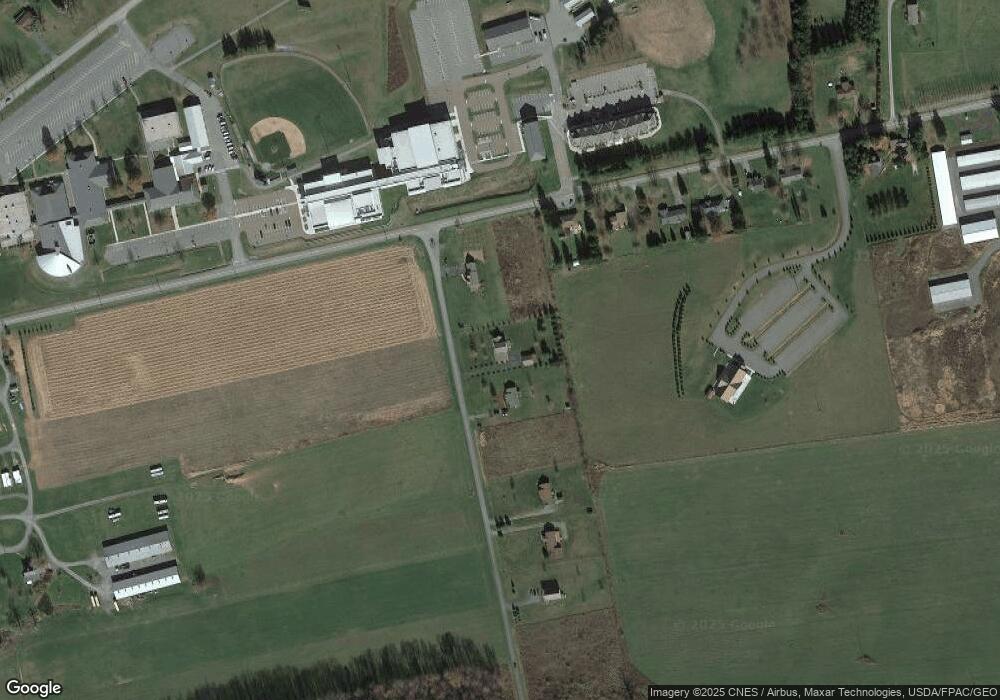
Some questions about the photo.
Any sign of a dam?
No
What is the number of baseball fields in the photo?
one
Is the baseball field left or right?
left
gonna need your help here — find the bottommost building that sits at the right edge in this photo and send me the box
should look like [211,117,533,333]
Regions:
[930,279,974,304]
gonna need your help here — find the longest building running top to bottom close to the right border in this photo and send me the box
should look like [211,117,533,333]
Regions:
[932,149,958,226]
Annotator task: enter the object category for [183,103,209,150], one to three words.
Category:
building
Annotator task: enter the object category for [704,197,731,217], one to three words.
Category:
house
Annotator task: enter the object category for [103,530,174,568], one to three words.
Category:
barn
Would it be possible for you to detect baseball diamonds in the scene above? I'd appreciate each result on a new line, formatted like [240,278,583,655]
[220,51,373,173]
